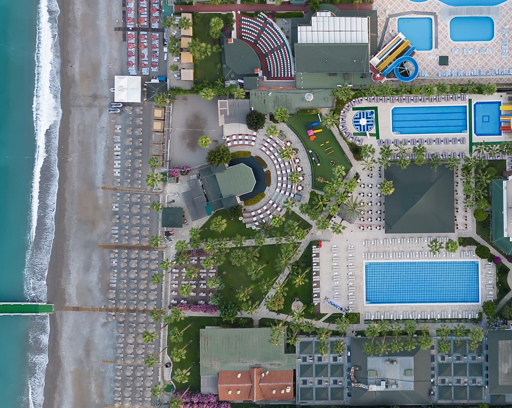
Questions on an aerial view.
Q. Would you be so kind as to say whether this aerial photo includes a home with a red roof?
Yes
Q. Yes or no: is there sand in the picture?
Yes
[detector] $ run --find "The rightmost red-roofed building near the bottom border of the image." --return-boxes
[218,367,295,402]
